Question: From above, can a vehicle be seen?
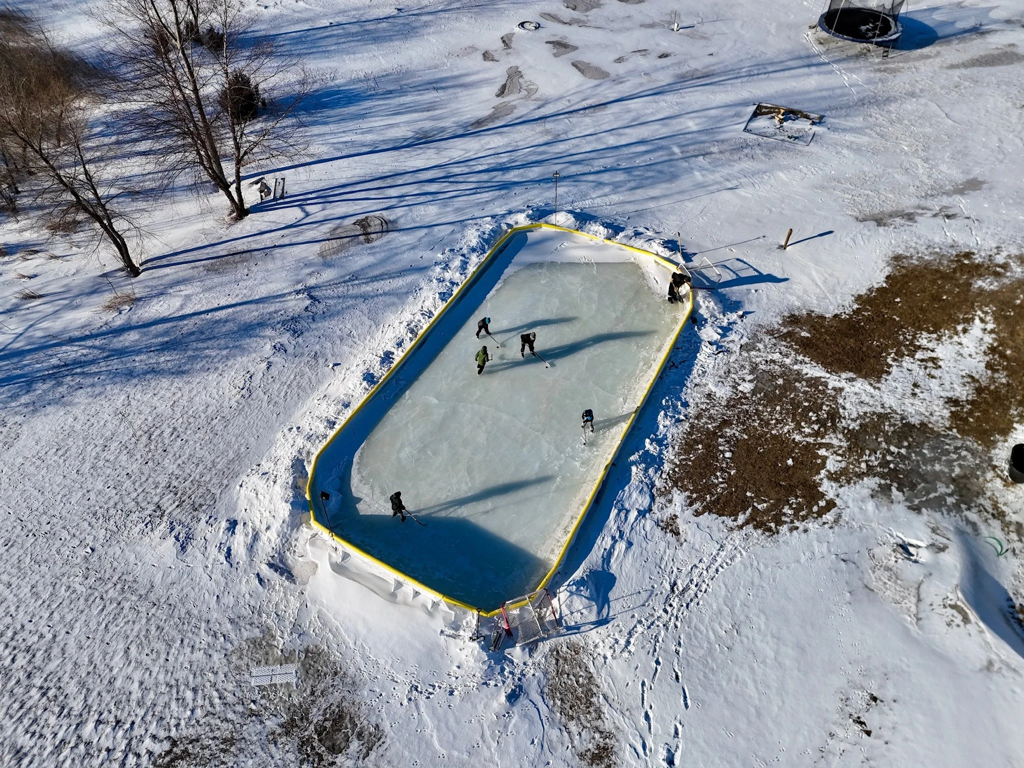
No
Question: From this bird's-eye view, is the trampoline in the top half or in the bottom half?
top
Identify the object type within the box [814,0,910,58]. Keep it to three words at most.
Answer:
trampoline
